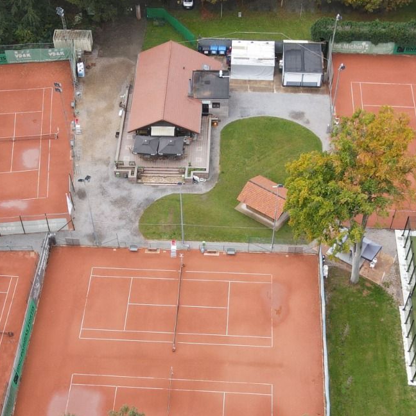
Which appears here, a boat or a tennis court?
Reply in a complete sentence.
There is a tennis court in the scene.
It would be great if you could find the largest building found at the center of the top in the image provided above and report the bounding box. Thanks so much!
[127,39,234,137]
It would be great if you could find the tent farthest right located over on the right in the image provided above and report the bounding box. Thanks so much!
[361,238,390,274]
